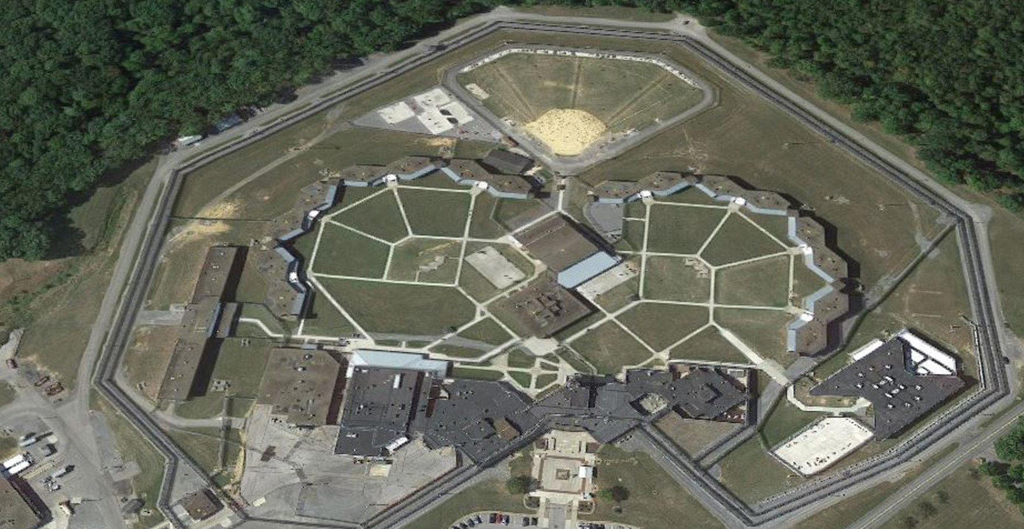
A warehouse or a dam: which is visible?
warehouse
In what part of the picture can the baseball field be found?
top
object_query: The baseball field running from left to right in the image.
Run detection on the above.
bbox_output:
[454,49,704,158]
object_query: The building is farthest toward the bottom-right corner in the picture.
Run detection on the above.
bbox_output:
[809,333,965,447]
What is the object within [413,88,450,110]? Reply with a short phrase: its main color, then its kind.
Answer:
white basketball court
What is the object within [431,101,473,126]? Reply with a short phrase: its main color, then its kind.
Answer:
white basketball court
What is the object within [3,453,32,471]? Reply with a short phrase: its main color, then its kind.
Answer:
white vehicle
